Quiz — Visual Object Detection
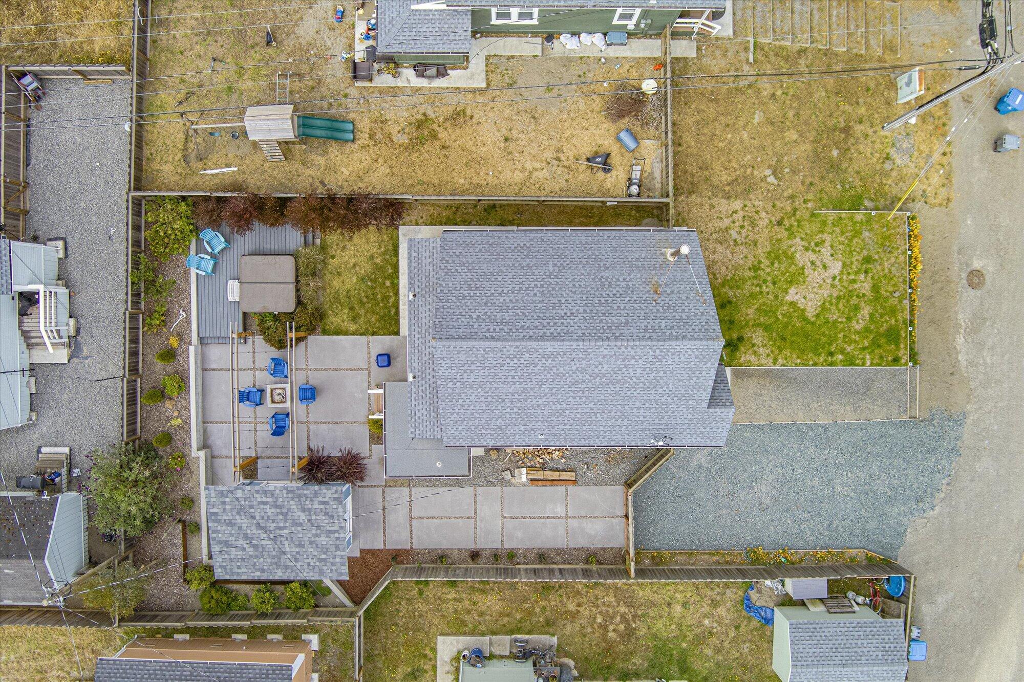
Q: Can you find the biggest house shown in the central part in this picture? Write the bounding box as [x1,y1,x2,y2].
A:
[383,227,733,479]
